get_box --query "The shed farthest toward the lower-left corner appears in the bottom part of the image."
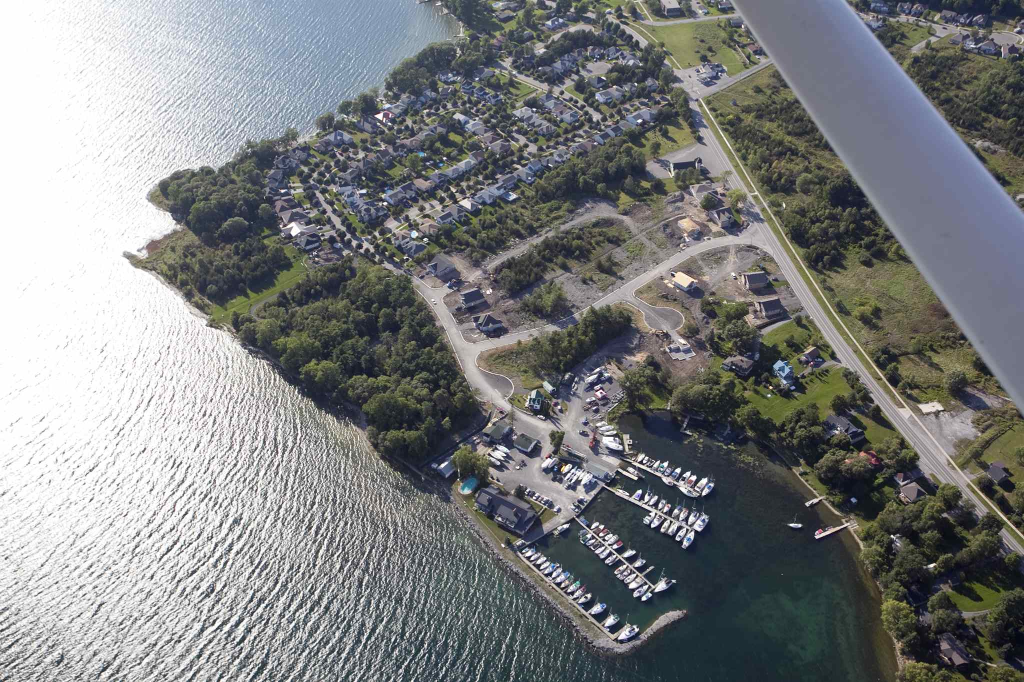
[430,458,463,485]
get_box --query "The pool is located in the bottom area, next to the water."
[455,476,482,497]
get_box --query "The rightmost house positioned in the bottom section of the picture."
[981,462,1012,489]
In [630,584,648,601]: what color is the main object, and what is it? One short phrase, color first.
white boat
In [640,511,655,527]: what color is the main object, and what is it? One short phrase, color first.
white boat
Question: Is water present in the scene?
Yes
